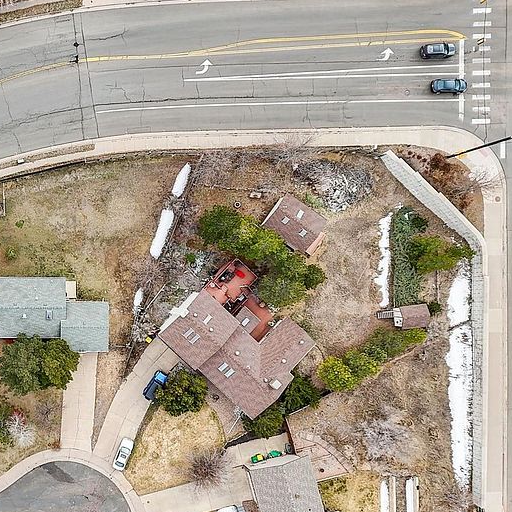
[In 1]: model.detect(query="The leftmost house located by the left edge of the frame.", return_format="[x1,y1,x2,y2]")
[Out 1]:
[0,277,111,354]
